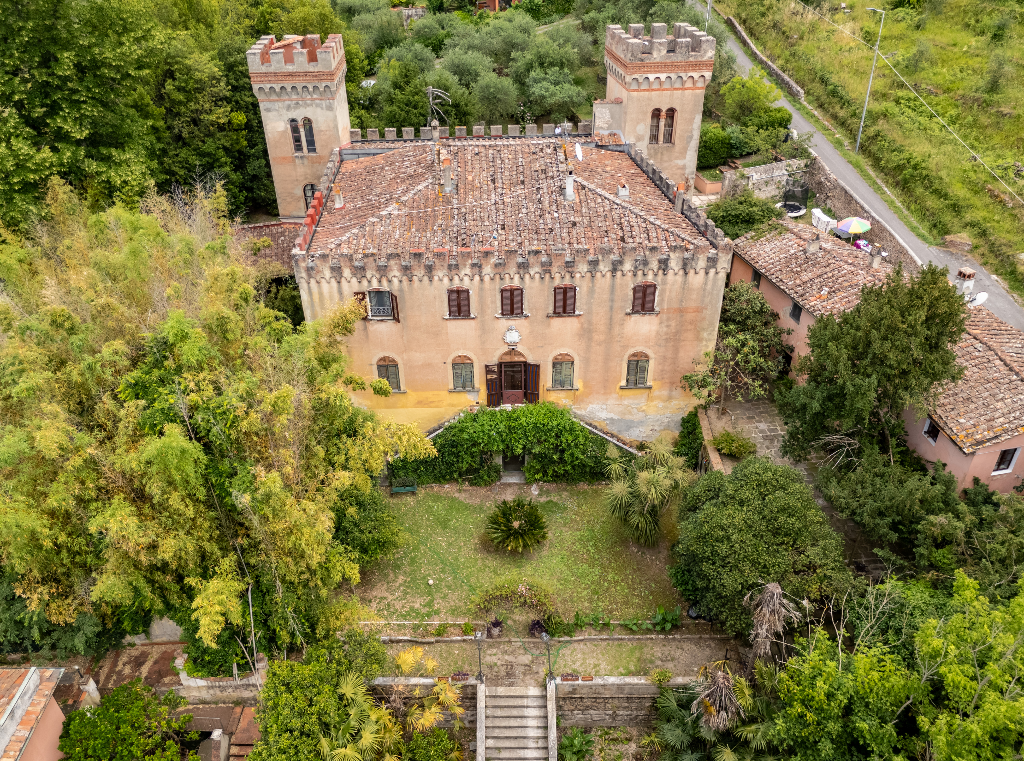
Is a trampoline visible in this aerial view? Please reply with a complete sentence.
Yes, the frame does contain a trampoline.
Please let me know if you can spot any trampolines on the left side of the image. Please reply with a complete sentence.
No, no trampoline is visible on the left side of the image.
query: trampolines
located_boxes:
[774,182,812,222]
